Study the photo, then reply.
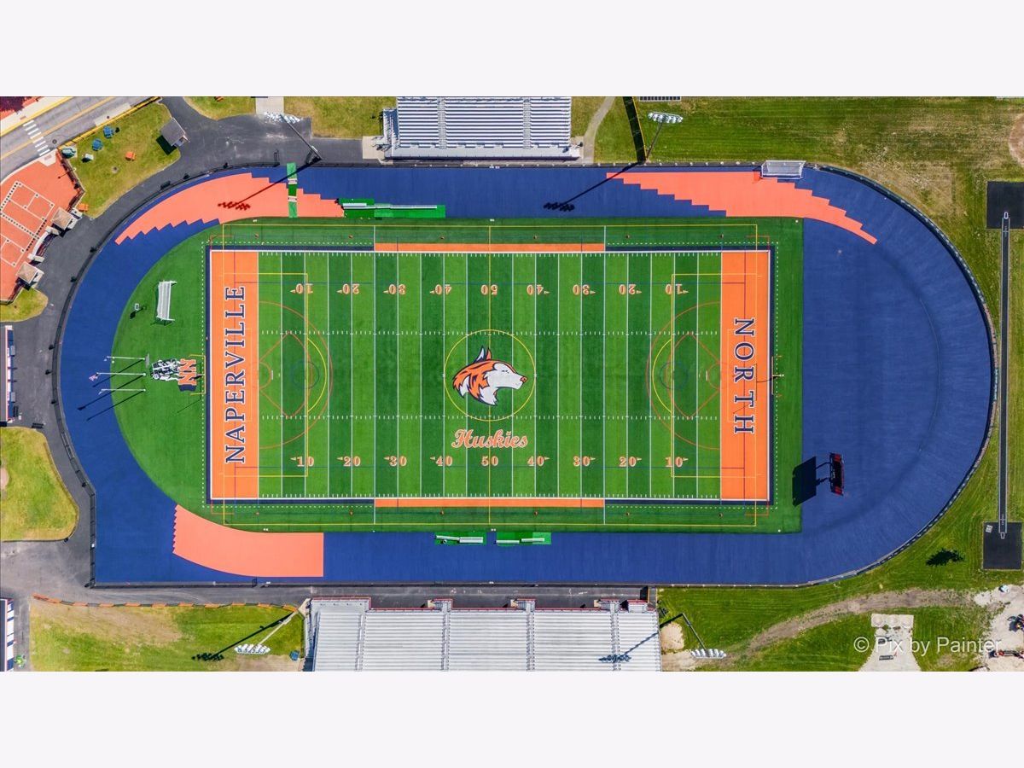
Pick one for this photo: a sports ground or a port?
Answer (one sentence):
The picture captures a sports ground.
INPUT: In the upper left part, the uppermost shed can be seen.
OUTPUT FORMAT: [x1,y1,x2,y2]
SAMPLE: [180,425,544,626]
[162,120,191,149]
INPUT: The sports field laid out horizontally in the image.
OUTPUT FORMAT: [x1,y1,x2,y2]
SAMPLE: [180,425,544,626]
[109,217,803,534]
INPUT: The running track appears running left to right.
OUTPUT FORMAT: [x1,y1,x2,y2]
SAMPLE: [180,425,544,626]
[61,165,991,585]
